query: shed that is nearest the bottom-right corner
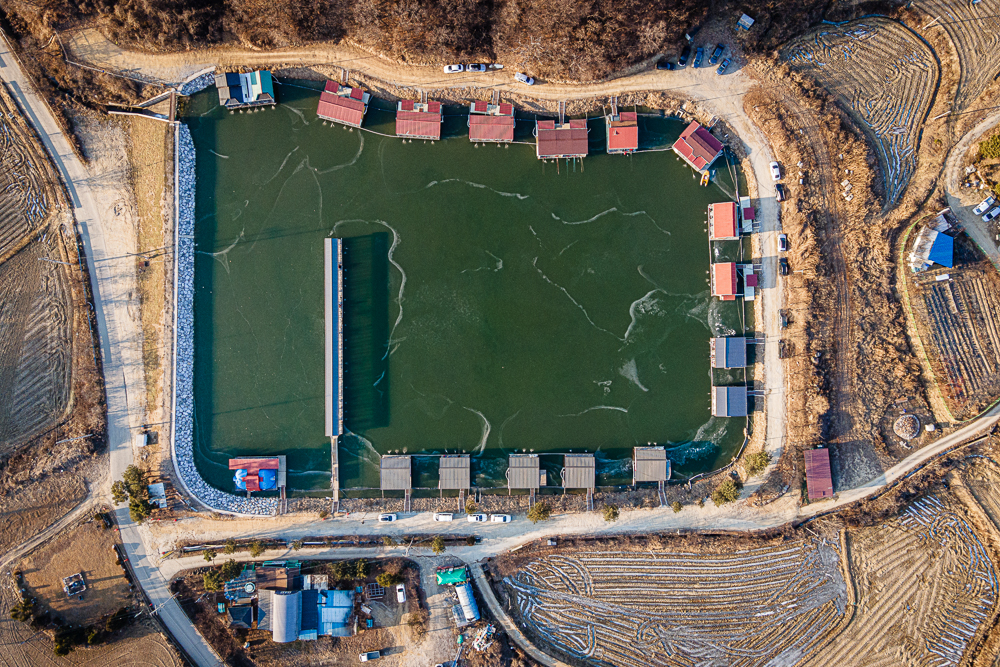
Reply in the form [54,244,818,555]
[798,446,833,498]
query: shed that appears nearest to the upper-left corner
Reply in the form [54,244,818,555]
[219,74,280,113]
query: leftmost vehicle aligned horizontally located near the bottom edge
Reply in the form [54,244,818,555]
[357,650,380,664]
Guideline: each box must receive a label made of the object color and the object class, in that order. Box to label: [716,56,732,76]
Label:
blue car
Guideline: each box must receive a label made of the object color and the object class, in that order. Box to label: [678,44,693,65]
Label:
black car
